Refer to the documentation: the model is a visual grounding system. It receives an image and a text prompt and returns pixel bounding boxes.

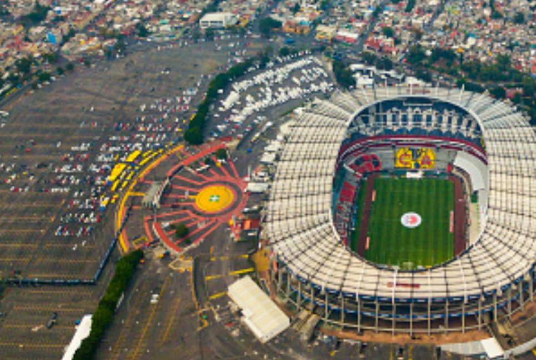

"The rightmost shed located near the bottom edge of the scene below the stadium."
[481,338,504,360]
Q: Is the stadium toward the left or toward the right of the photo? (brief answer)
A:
right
